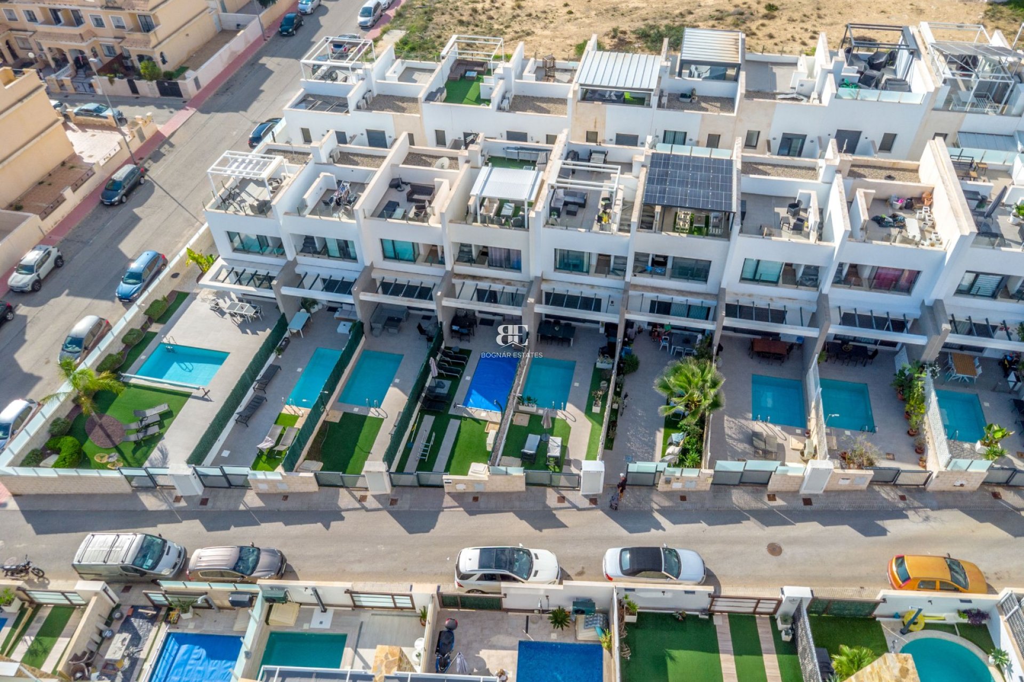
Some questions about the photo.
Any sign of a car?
Yes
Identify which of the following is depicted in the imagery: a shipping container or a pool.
pool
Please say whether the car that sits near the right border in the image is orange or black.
orange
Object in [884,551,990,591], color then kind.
orange car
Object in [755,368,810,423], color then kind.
blue swimming pool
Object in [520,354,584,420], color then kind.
blue swimming pool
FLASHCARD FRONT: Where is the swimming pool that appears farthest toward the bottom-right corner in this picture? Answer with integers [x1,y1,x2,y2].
[900,638,992,682]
